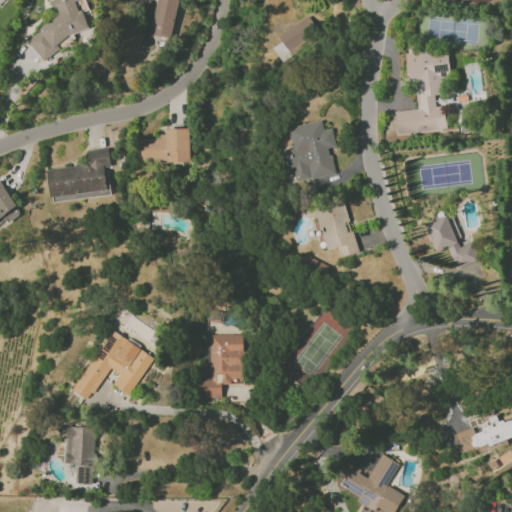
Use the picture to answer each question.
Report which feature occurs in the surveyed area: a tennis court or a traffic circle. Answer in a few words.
tennis court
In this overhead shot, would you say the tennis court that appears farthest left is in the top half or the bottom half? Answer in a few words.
bottom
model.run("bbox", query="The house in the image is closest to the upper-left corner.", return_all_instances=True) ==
[28,0,90,58]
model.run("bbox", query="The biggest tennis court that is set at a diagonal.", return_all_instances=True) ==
[292,312,350,383]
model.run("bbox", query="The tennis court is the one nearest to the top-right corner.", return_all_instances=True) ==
[420,15,490,50]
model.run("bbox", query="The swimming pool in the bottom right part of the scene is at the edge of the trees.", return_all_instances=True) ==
[400,462,416,487]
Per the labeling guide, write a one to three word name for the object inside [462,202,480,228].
swimming pool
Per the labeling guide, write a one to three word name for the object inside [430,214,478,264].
house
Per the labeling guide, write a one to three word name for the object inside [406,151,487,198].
tennis court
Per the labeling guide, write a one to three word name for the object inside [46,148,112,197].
house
